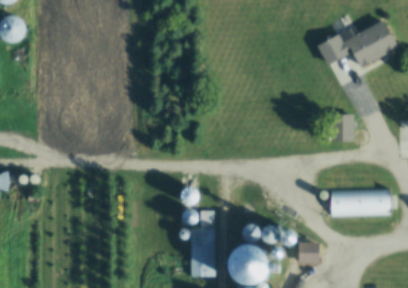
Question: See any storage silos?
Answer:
Yes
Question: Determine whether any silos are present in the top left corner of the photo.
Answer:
Yes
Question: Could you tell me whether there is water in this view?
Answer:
No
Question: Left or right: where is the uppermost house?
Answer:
right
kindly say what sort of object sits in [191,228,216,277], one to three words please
shed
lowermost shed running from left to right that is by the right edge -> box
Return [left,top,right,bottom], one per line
[332,190,390,216]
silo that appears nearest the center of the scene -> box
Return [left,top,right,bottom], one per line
[180,188,201,208]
